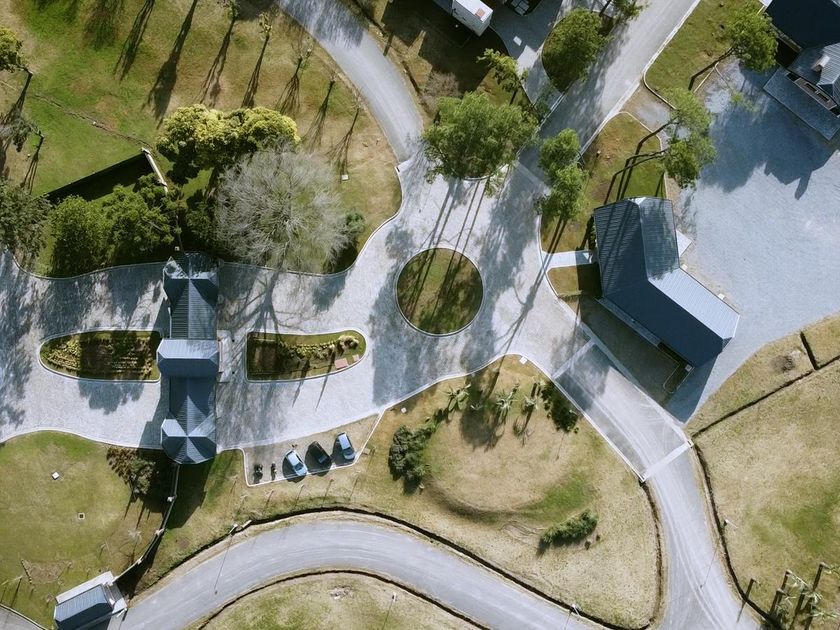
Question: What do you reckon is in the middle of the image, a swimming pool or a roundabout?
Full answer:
The feature located in the middle of the image is a roundabout.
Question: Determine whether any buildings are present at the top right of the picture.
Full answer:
Yes, you'll find a building at the top right of the picture.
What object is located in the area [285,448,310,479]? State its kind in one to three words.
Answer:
car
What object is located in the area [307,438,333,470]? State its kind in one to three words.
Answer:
car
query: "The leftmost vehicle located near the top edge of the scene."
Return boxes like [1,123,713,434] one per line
[442,0,492,34]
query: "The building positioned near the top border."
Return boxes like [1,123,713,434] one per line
[754,0,840,141]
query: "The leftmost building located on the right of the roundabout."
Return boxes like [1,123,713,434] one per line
[589,194,743,372]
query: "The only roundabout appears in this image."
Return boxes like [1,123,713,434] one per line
[395,247,484,335]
